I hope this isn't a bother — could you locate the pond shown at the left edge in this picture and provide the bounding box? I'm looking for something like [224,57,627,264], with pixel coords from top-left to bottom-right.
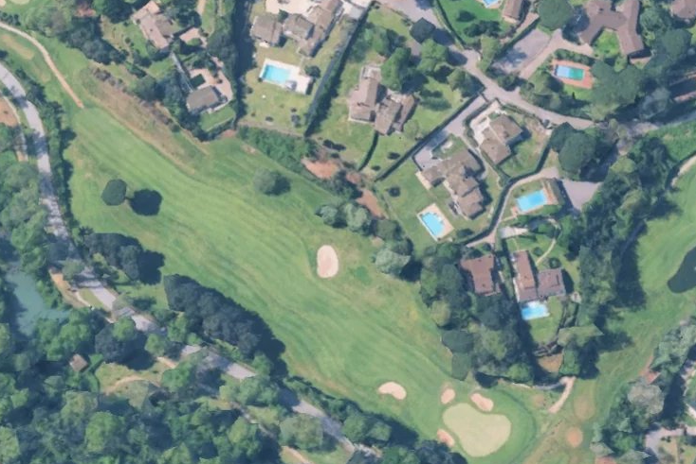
[1,265,74,340]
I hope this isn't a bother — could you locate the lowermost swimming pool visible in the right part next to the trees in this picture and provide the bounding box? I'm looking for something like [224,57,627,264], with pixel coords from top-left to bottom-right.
[520,301,551,321]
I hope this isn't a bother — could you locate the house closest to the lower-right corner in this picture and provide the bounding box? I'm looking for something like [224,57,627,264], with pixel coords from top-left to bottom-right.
[514,250,566,303]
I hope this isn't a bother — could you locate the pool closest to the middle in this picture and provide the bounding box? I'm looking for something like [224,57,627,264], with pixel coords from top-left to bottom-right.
[417,204,454,240]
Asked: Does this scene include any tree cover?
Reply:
Yes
